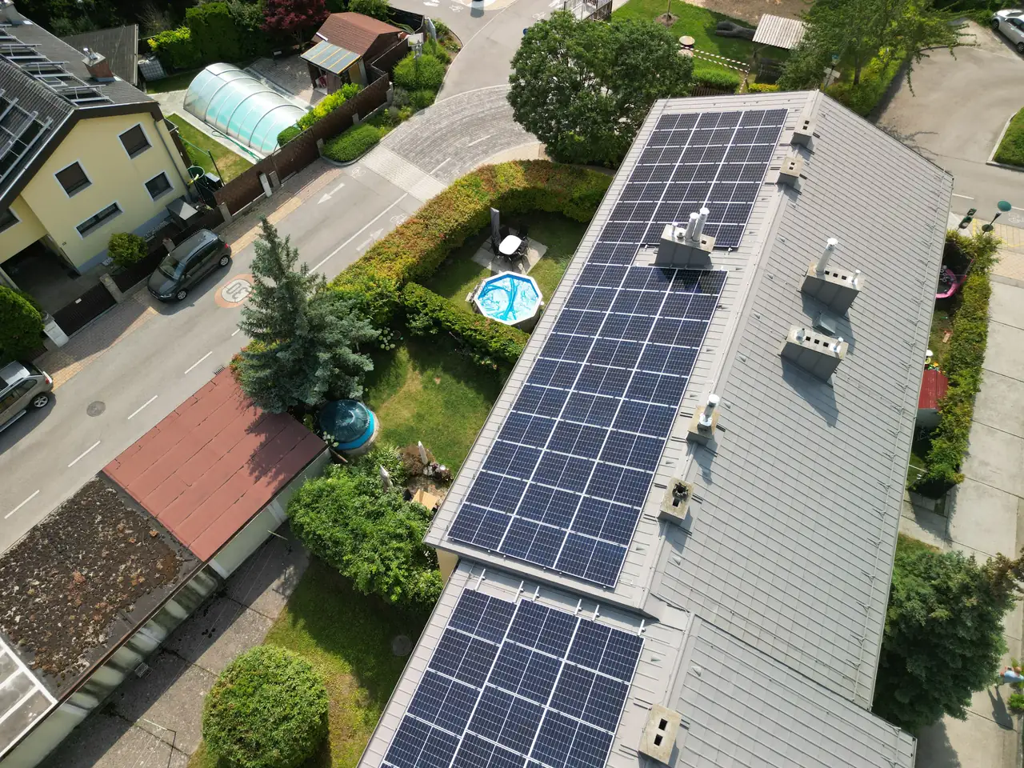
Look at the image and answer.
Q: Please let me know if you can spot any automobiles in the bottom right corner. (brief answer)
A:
No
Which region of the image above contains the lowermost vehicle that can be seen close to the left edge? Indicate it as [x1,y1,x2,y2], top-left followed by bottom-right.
[0,358,52,429]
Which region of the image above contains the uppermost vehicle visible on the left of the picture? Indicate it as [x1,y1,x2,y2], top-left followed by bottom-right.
[142,231,233,305]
